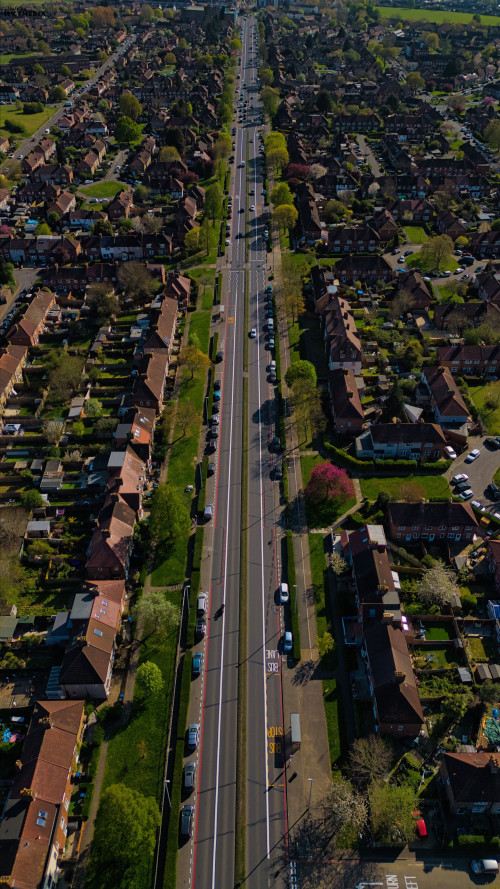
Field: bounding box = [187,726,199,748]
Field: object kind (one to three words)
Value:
vehicle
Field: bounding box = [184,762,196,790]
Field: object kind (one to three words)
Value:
vehicle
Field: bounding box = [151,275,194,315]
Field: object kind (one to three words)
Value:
house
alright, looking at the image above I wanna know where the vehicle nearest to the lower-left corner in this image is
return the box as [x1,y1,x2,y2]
[181,808,194,835]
